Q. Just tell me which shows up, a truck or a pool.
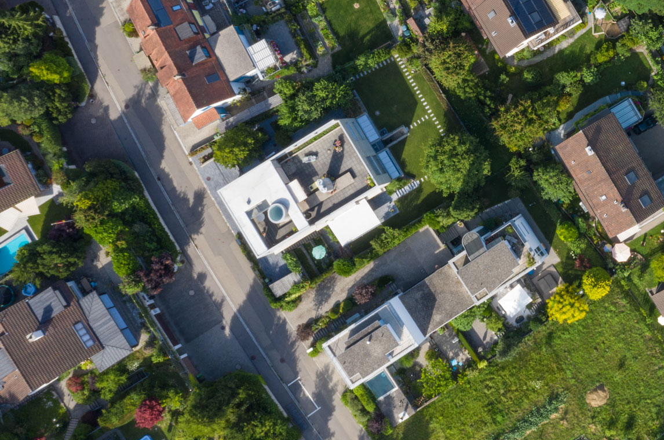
pool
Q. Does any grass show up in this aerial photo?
Yes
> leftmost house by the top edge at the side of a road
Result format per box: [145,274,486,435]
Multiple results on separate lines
[127,0,260,129]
